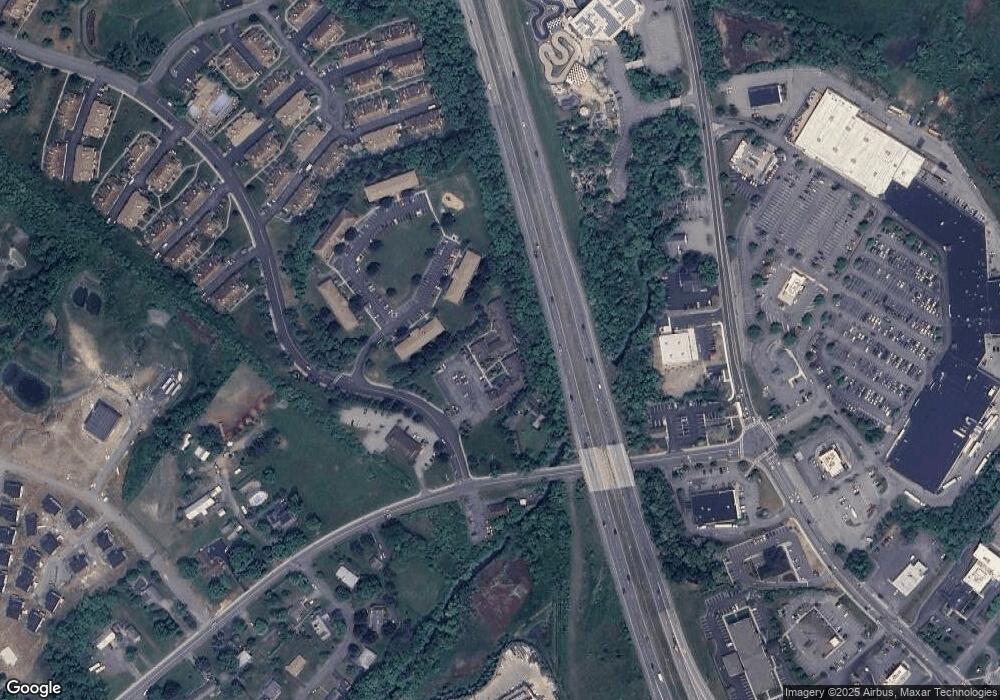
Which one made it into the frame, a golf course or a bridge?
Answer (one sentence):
There is a bridge in the scene.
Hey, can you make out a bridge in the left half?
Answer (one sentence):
No, in the left half there is no bridge.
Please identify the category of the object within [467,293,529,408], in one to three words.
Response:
house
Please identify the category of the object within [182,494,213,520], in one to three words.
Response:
barn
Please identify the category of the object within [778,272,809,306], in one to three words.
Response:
building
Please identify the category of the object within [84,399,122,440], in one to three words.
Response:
building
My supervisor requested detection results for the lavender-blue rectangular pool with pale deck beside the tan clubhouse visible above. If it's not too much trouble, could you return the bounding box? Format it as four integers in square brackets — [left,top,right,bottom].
[204,87,234,119]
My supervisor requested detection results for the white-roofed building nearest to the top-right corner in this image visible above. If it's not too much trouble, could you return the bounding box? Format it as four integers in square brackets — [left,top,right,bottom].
[792,89,926,202]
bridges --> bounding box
[581,436,633,495]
